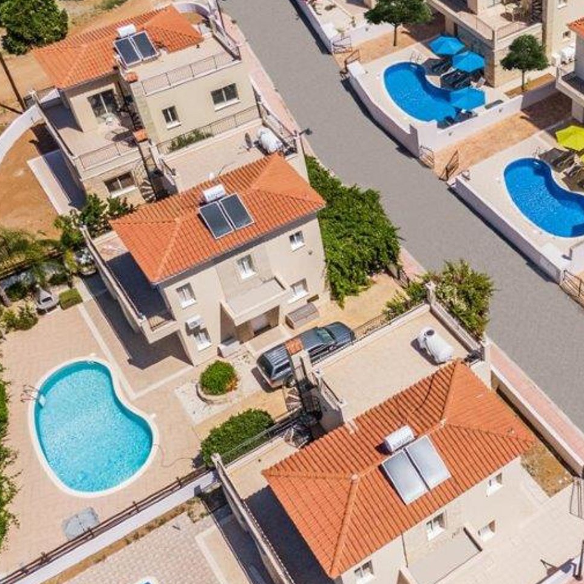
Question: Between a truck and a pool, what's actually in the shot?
pool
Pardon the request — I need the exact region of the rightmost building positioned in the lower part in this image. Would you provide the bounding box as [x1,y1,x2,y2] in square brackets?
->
[209,280,536,584]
